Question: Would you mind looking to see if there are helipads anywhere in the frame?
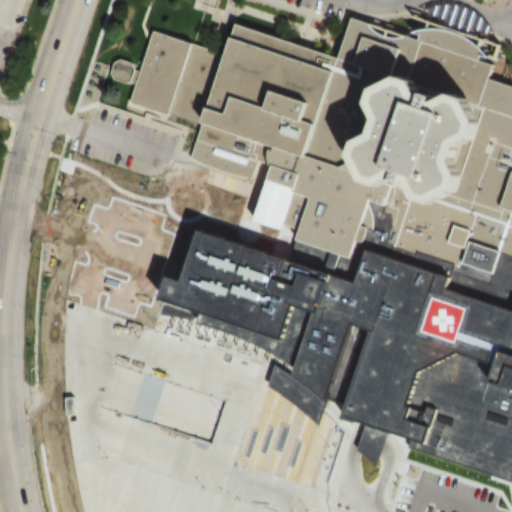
Yes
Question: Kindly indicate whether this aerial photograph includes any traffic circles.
No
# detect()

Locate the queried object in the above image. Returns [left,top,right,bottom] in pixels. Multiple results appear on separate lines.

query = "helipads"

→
[417,293,494,350]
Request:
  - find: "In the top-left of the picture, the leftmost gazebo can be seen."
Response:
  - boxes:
[115,59,140,84]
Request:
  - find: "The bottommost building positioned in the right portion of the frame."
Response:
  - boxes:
[157,230,512,482]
